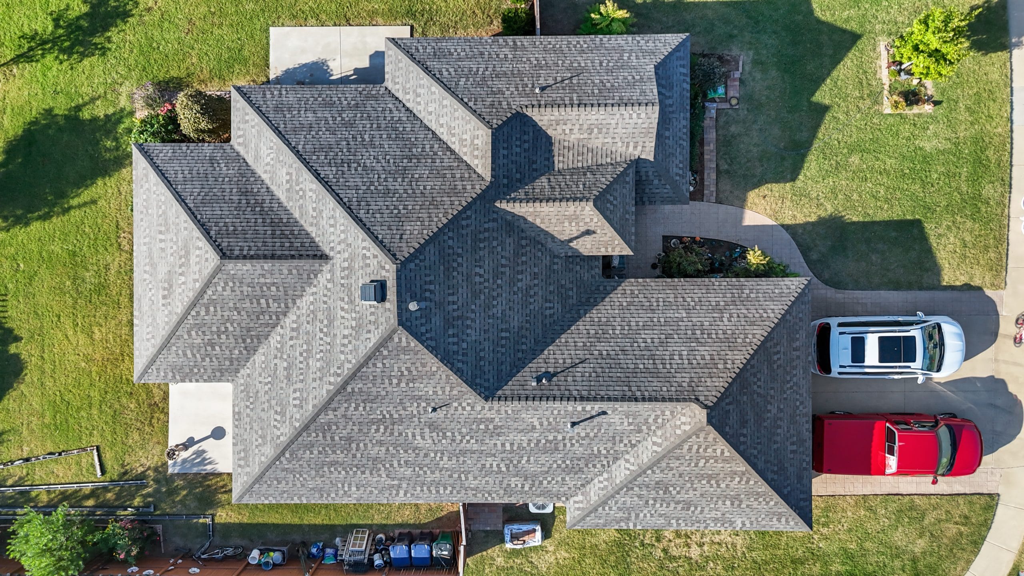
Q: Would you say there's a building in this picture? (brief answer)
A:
Yes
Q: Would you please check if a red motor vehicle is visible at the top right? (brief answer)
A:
No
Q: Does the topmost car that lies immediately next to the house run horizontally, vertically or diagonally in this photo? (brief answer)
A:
horizontally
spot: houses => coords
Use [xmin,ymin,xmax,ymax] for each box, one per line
[131,35,813,532]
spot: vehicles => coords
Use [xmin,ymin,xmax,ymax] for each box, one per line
[812,309,966,385]
[812,407,982,488]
